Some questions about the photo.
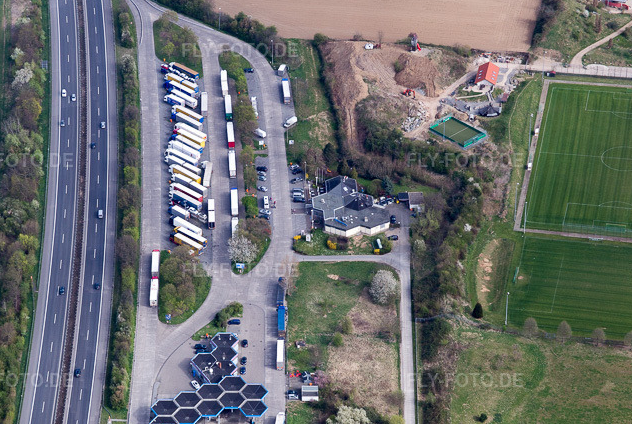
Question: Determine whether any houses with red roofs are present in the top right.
Yes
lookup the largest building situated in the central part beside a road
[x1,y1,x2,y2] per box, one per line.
[312,176,389,237]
